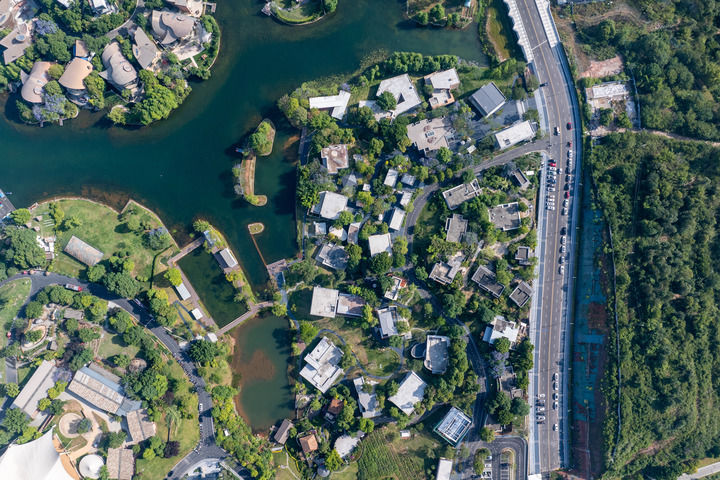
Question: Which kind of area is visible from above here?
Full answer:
What you see here is a residential area.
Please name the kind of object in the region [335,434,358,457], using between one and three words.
house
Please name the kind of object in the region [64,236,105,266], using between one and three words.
building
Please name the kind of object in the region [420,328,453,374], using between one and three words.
house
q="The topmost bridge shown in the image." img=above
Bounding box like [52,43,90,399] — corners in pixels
[506,0,563,61]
